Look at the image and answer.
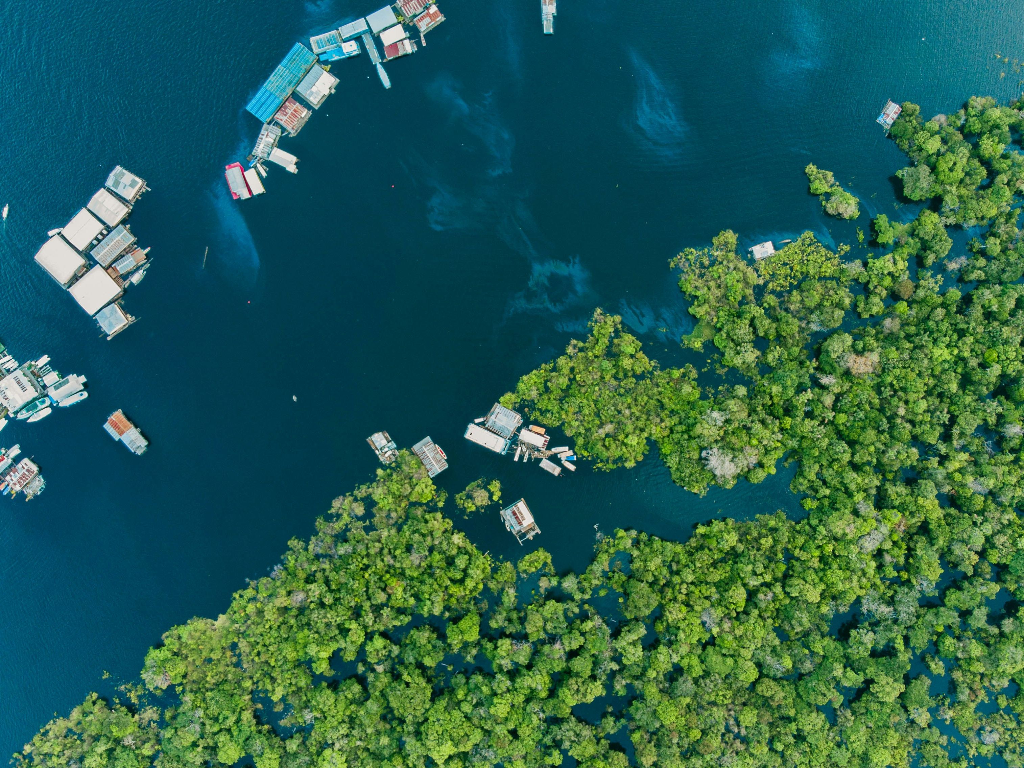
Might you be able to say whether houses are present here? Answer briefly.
Yes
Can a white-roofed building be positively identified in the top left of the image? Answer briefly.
Yes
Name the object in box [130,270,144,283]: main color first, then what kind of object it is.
white boat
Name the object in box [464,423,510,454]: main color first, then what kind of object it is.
white vessel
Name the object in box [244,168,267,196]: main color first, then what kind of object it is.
white boat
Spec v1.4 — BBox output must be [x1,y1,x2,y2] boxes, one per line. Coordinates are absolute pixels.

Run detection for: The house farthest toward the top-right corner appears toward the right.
[876,98,901,129]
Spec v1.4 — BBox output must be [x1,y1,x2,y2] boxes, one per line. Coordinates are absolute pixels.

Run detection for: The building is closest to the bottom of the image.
[501,498,541,546]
